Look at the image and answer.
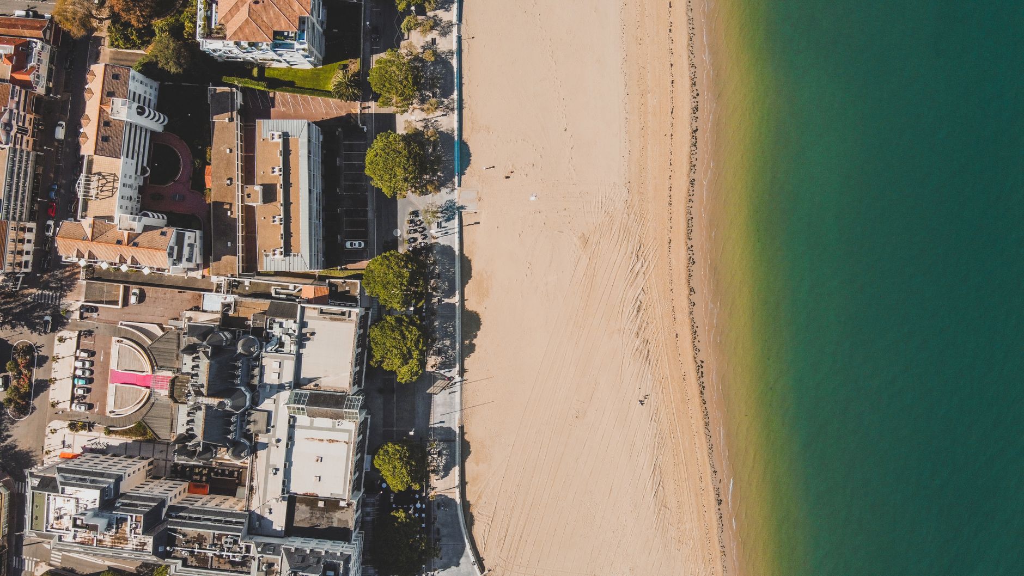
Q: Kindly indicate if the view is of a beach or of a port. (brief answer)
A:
beach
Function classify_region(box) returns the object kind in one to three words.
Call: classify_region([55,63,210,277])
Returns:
house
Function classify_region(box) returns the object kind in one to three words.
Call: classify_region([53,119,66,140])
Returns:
vehicle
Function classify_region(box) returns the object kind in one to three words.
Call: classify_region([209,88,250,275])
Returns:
building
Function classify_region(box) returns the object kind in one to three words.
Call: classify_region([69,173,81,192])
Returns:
vehicle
